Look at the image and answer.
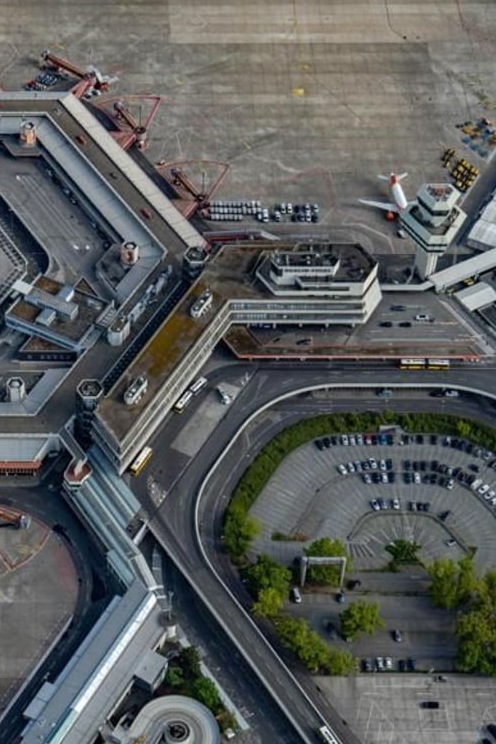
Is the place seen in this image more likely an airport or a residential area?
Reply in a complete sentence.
What you see here is an airport.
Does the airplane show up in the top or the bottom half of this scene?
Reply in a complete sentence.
You can find the airplane in the top half.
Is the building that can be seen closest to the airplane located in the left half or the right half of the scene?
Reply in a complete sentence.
The building that can be seen closest to the airplane is on the right side of the image.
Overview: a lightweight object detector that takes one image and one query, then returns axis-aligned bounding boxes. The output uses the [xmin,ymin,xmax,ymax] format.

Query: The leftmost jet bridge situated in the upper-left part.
[41,52,97,93]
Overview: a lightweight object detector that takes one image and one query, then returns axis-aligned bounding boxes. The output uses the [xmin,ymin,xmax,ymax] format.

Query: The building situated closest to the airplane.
[399,183,468,285]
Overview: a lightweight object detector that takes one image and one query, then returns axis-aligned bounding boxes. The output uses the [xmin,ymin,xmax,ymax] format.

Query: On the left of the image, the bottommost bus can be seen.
[130,447,152,476]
